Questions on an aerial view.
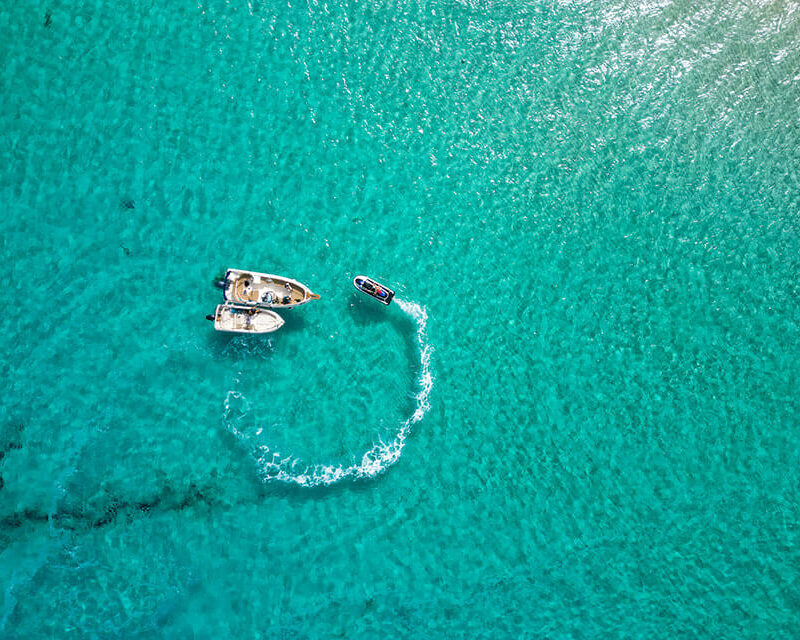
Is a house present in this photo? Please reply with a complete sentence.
No, I find no house anywhere in the image.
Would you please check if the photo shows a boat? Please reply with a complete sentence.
Yes, there is a boat in the image.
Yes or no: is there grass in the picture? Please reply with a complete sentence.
No, there is no grass in the image.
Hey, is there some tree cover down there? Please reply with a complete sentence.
No, no tree cover is visible.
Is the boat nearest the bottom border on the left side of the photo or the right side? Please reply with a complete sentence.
You can find the boat nearest the bottom border on the left side of the picture.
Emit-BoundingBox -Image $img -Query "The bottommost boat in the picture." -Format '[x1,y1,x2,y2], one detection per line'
[206,305,285,333]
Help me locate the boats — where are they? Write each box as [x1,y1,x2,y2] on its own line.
[213,270,320,309]
[206,305,285,333]
[354,276,394,304]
